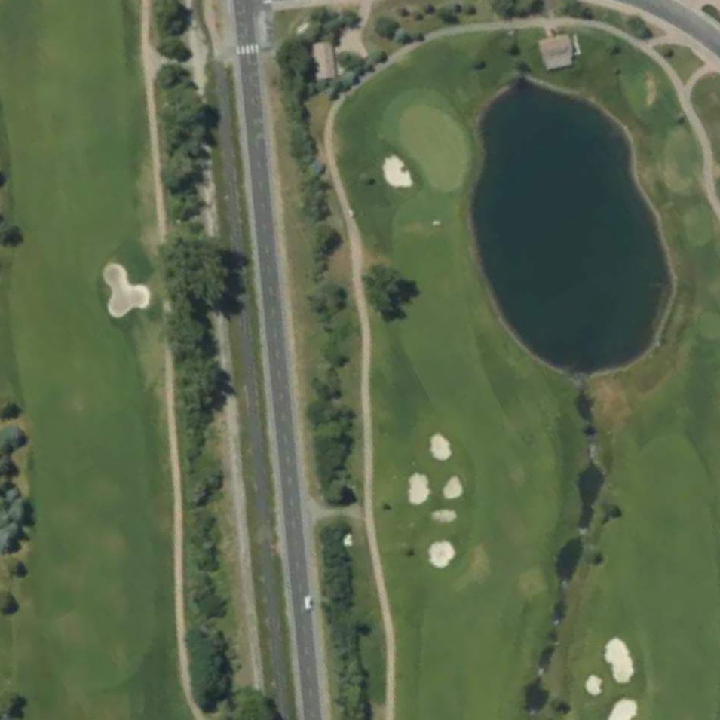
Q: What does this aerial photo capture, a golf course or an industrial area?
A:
golf course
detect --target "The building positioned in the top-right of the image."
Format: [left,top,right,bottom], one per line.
[539,33,575,70]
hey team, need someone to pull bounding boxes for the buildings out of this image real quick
[539,33,575,70]
[312,41,336,79]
